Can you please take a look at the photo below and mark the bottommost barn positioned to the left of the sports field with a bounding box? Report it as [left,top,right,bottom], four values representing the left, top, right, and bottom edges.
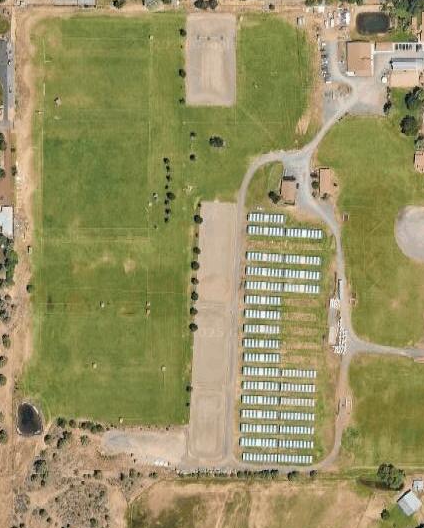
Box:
[0,206,13,238]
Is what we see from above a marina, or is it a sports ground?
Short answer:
sports ground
